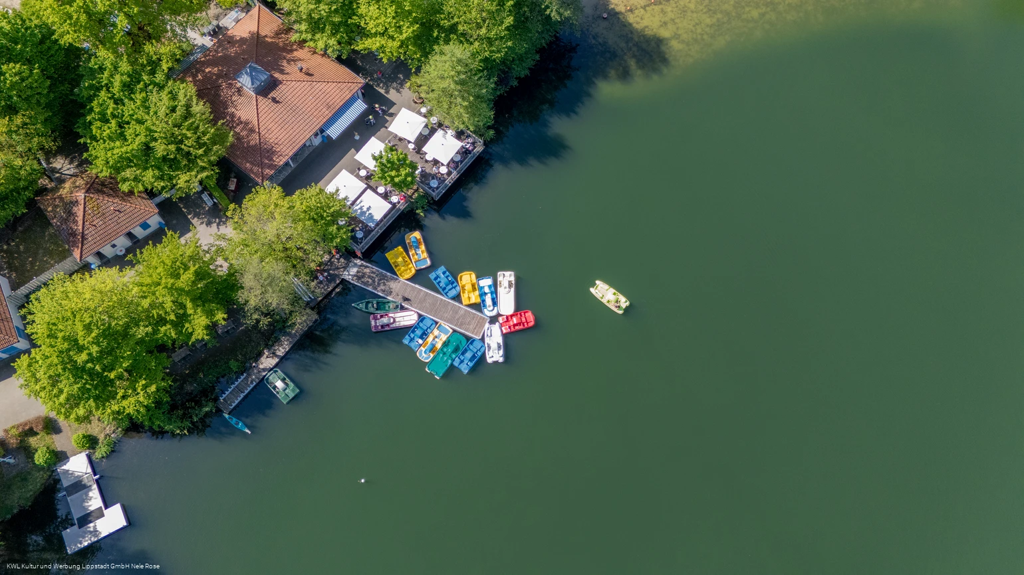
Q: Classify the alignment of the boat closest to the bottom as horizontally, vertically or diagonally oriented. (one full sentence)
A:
From this overhead view, the boat closest to the bottom appears to run diagonally.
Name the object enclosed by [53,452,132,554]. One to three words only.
pier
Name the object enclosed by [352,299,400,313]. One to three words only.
boat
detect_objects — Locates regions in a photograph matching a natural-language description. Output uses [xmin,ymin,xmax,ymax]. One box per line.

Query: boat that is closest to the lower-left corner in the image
[223,413,252,433]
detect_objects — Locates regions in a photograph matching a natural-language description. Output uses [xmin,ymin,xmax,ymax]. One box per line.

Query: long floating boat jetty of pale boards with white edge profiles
[344,259,491,340]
